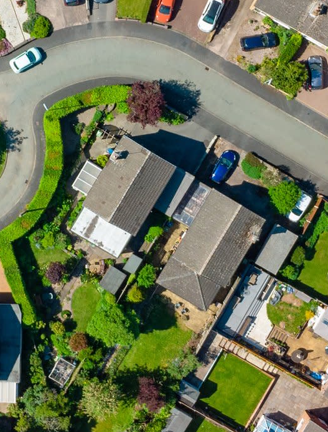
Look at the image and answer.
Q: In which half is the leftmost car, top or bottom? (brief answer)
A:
top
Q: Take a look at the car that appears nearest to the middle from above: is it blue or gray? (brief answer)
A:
blue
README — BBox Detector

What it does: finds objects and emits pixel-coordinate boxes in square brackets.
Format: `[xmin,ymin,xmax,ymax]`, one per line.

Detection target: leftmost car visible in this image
[6,46,46,74]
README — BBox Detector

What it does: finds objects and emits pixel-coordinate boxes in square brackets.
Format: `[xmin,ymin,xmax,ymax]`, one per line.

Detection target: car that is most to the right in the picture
[307,55,324,89]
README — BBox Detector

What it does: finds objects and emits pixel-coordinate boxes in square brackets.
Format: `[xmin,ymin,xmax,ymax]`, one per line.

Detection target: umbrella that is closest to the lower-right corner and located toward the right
[291,347,308,363]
